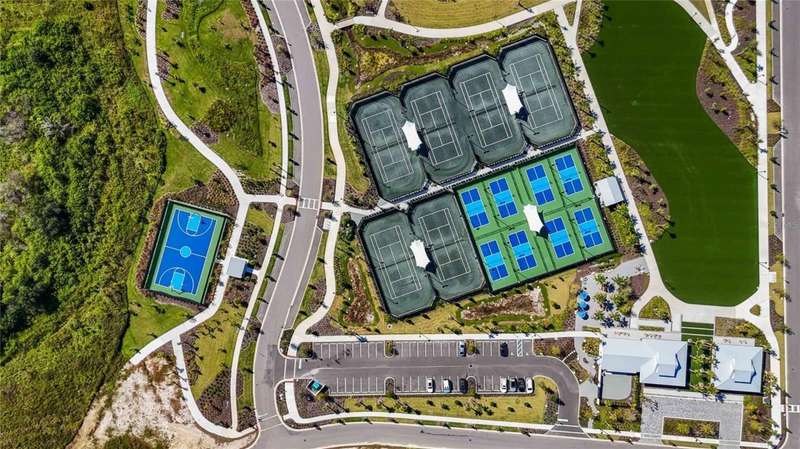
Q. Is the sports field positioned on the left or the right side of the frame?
right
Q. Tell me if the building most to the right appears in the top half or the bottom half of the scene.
bottom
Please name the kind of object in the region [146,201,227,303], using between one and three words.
basketball court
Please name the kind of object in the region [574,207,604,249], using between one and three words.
sports court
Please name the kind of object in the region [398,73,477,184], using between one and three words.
tennis court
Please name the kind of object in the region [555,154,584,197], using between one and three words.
sports court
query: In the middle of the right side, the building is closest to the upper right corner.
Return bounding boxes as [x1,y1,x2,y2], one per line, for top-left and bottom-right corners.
[591,176,624,205]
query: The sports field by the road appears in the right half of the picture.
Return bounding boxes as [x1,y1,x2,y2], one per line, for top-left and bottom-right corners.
[588,0,759,305]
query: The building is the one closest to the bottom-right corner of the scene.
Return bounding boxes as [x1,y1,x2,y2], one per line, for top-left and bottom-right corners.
[714,345,764,390]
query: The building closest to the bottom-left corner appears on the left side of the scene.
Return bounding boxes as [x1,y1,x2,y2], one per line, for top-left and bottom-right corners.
[227,256,248,278]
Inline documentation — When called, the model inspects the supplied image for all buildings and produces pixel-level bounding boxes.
[602,335,688,387]
[227,256,248,278]
[591,176,624,205]
[714,345,764,390]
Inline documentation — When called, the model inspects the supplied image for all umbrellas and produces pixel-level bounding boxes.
[577,309,588,319]
[577,300,588,309]
[577,290,588,300]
